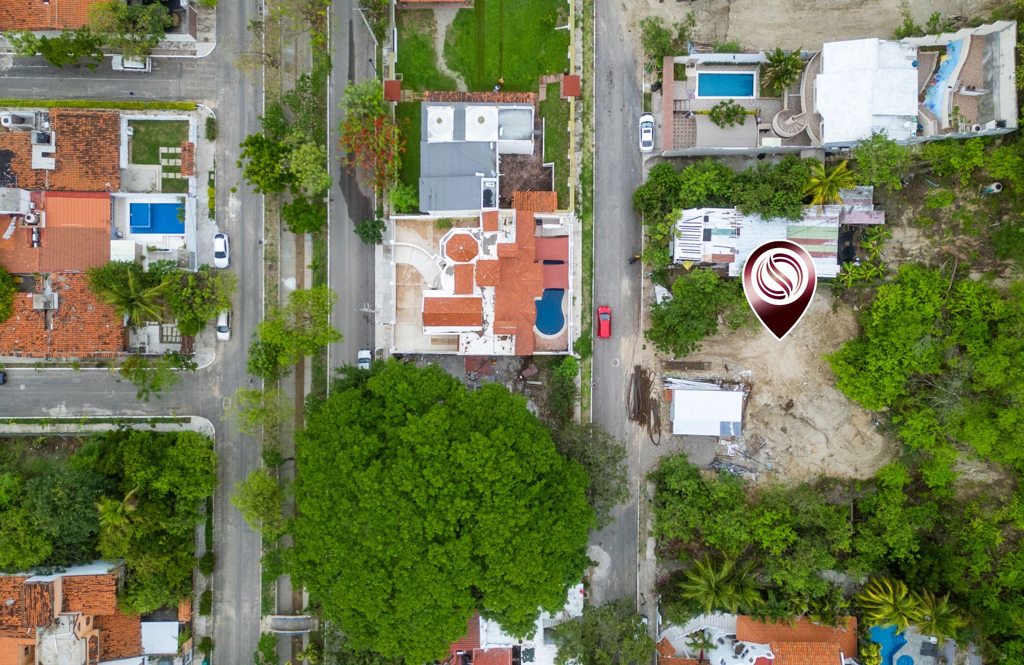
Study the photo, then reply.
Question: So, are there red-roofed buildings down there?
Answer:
Yes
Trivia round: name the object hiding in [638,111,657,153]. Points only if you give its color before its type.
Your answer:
white car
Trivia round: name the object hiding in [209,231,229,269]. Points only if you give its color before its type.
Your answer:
white car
